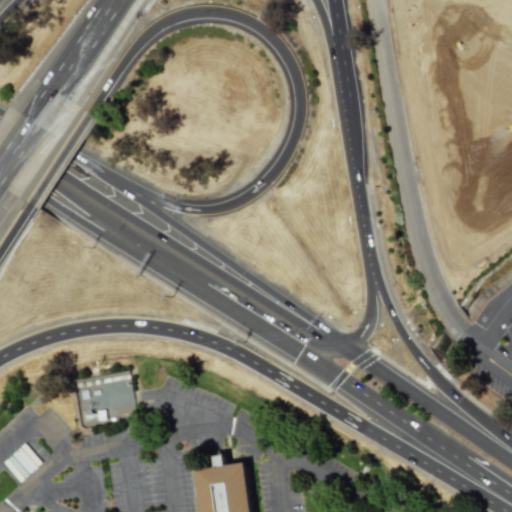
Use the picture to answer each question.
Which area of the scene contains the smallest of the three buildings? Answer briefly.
bottom left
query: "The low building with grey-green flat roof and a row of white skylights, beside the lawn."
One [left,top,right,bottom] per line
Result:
[78,372,136,428]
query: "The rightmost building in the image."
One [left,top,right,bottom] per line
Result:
[193,455,248,512]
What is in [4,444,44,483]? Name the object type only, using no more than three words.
building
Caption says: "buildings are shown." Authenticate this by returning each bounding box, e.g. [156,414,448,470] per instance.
[78,372,136,428]
[4,444,44,483]
[193,455,248,512]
